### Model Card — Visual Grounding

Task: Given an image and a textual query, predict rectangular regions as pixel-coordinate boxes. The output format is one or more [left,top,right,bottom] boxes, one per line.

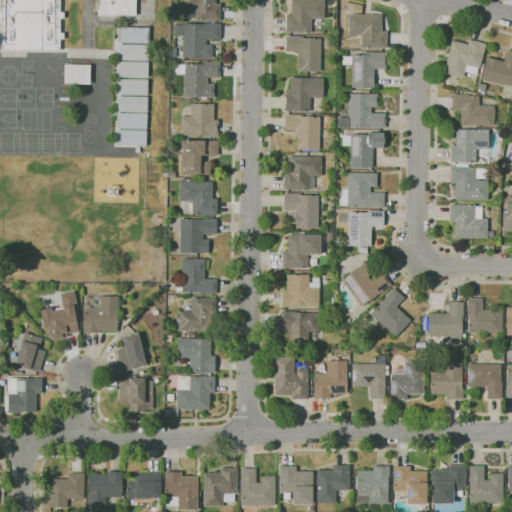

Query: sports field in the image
[0,154,148,280]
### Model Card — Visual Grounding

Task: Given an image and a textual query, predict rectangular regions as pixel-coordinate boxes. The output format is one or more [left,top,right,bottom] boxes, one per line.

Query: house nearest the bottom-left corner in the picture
[48,473,84,510]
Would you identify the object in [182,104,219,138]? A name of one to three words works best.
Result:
house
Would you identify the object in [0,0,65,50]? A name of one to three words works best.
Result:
building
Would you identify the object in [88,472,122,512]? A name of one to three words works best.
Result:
house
